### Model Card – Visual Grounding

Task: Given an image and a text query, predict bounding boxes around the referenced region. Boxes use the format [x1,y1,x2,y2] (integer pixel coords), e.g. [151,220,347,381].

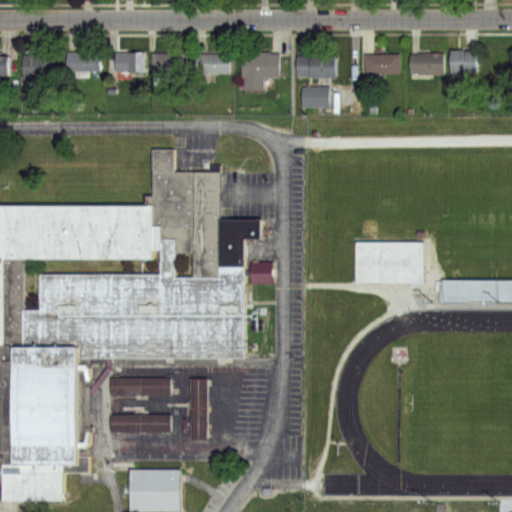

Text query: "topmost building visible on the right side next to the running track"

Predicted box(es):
[356,242,426,284]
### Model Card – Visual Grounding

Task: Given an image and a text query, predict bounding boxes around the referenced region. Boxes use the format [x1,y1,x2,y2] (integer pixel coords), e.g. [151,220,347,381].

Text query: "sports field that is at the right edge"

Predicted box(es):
[358,331,512,475]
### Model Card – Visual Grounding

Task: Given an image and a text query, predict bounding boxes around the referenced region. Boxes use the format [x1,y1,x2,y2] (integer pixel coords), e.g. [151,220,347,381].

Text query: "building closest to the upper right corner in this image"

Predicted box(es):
[448,50,477,74]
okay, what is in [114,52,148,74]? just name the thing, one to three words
house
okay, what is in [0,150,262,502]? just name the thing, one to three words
building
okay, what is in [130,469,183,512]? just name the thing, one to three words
building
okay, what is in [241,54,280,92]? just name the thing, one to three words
house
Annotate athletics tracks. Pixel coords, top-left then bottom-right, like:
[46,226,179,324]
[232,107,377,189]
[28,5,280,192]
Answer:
[325,312,512,494]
